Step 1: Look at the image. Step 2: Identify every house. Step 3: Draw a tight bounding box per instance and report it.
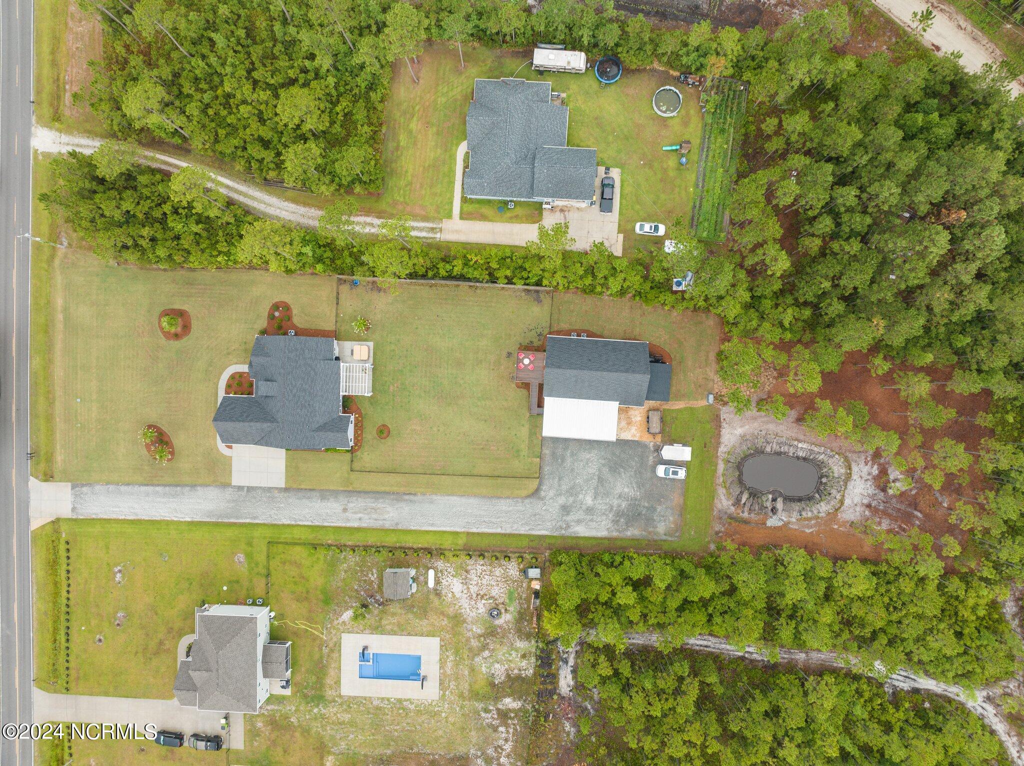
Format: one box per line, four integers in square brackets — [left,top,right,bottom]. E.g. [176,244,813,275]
[174,606,269,716]
[542,335,672,442]
[212,333,355,450]
[463,76,598,205]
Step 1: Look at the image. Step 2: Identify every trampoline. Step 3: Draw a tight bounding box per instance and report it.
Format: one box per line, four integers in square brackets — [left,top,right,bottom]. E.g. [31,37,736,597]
[594,51,624,91]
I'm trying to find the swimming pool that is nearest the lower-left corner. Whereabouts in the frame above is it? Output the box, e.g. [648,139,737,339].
[341,634,440,700]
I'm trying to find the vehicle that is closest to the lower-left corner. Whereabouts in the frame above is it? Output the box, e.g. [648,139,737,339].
[155,729,187,747]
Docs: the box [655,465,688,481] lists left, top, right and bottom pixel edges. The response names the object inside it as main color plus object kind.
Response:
white car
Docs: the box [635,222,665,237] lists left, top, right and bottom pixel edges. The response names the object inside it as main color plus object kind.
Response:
white car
